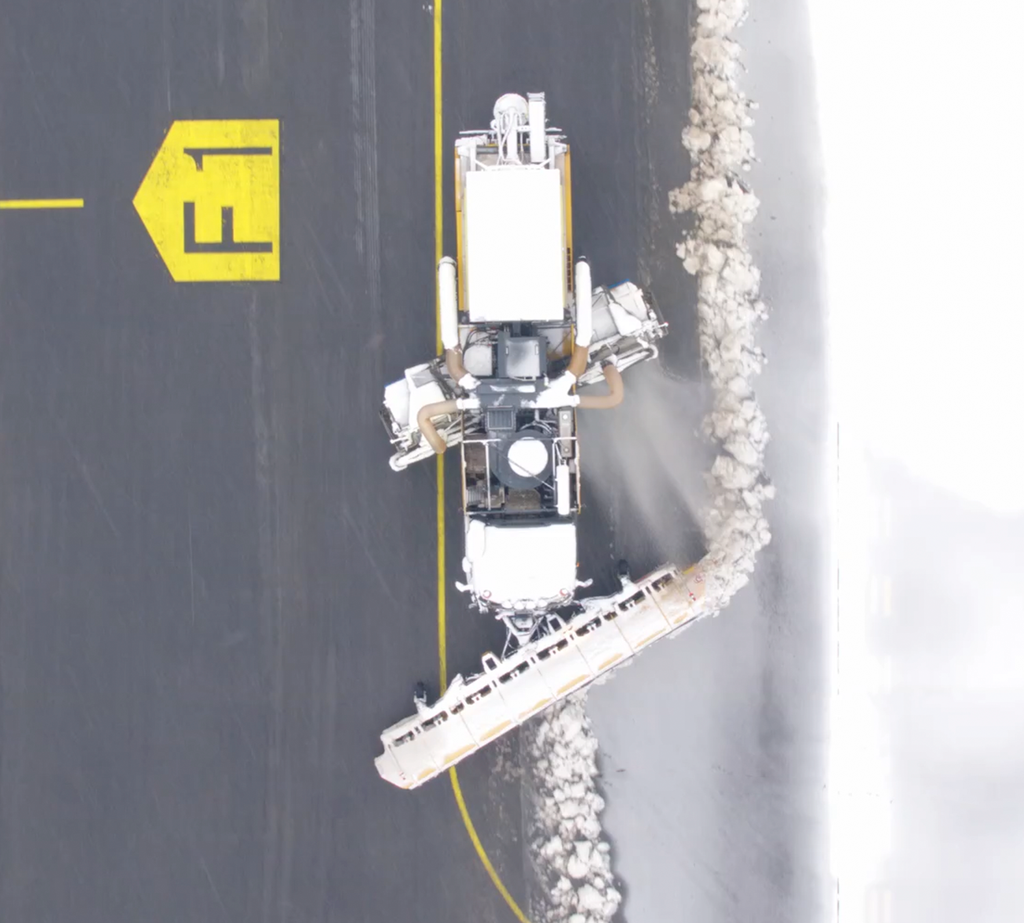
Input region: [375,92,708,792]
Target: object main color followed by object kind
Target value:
white truck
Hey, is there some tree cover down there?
No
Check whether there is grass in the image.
No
